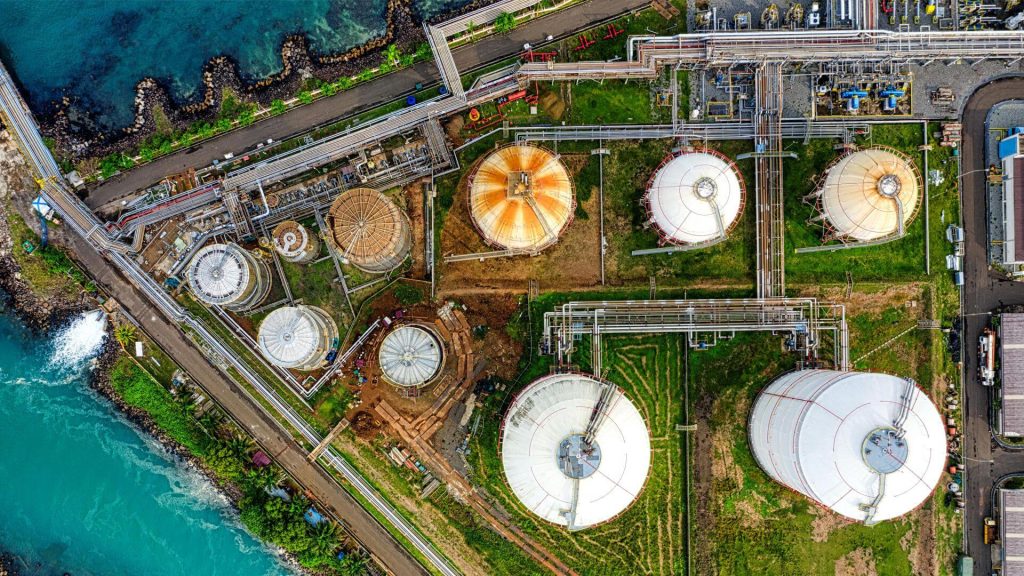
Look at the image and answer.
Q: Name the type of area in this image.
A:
industrial area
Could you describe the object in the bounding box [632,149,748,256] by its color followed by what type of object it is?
white storage tank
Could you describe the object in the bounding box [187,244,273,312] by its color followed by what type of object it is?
white storage tank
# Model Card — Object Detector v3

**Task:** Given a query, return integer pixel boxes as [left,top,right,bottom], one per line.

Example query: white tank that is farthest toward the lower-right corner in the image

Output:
[746,366,950,527]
